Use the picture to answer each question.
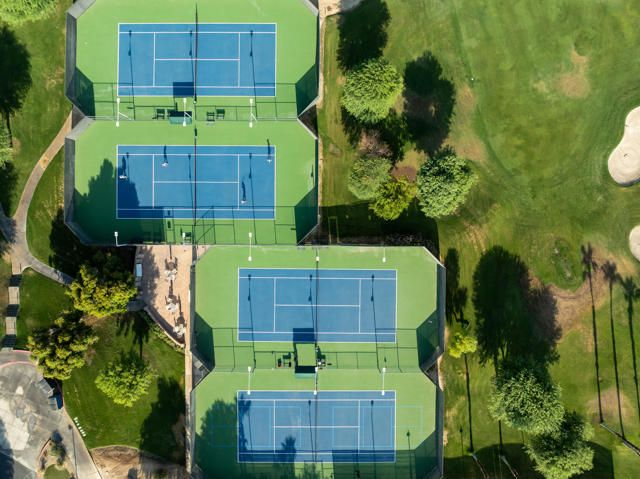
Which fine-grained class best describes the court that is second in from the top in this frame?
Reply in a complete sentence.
I'd identify the court that is second in from the top as a tennis court.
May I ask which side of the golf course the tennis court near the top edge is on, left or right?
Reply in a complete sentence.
Looking at the photo, the tennis court near the top edge lies to the left of the golf course.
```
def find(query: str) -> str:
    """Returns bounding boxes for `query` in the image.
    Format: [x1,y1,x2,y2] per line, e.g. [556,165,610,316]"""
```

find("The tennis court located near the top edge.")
[76,0,318,120]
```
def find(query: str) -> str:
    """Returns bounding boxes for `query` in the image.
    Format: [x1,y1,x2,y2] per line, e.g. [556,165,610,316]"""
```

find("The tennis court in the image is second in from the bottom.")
[196,245,438,366]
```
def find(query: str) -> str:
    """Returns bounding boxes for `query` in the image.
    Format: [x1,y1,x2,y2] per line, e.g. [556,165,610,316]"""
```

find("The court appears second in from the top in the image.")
[75,120,317,243]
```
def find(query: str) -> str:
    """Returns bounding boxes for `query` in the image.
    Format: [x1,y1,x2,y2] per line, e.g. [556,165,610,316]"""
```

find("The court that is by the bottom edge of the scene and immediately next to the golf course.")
[195,366,438,479]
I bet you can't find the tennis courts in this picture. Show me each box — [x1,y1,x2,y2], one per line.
[75,120,317,243]
[76,0,318,120]
[195,366,438,479]
[196,245,438,366]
